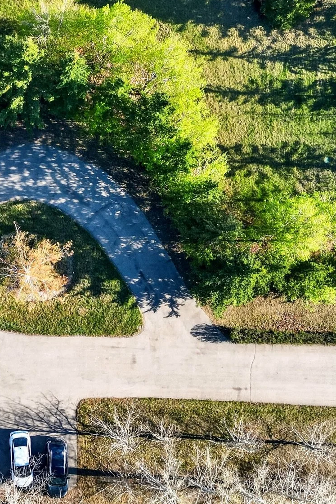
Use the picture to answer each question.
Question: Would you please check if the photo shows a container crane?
No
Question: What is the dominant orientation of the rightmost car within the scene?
vertically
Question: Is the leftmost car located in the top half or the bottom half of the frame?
bottom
